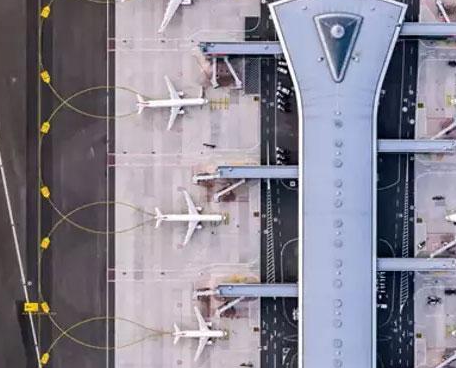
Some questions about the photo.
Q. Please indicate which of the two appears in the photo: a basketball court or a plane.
plane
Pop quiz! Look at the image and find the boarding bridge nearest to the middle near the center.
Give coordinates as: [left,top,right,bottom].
[191,166,299,202]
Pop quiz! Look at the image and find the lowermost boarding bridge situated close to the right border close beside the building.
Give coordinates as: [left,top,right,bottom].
[377,236,456,271]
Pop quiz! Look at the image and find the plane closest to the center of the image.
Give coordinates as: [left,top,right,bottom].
[155,189,226,246]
